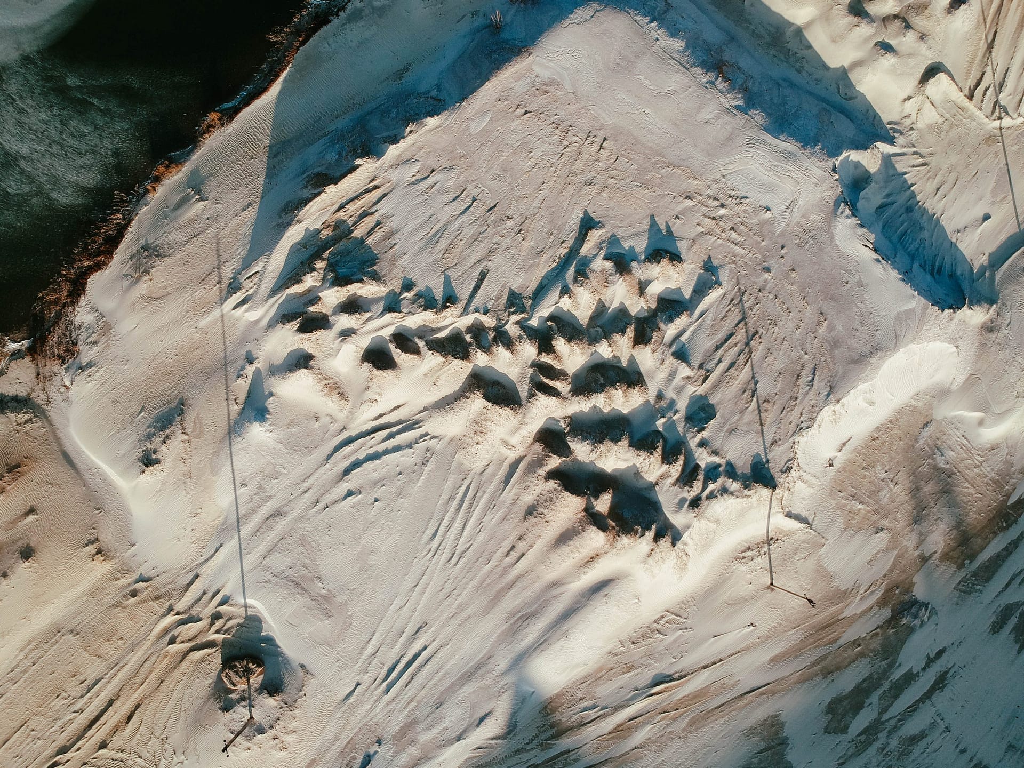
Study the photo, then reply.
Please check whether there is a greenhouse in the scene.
No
